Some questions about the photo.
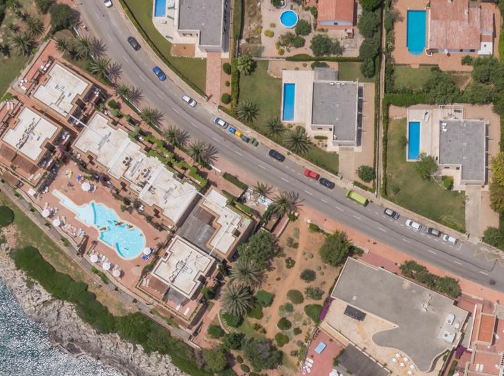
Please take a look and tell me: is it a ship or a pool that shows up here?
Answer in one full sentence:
The one in the frame is a pool.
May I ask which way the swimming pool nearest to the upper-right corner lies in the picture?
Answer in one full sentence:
The swimming pool nearest to the upper-right corner has been laid out vertically relative to the frame.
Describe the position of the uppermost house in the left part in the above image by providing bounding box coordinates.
[178,0,225,50]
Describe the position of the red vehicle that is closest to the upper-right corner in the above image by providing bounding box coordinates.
[304,168,319,180]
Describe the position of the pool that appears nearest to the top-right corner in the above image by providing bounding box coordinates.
[405,8,428,57]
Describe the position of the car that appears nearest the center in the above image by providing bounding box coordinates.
[267,149,286,162]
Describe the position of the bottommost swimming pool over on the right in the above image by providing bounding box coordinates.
[405,120,421,161]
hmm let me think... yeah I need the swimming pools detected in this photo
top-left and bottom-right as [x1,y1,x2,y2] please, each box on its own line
[152,0,167,18]
[281,82,297,122]
[405,120,421,161]
[405,8,428,57]
[49,187,148,261]
[279,9,299,30]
